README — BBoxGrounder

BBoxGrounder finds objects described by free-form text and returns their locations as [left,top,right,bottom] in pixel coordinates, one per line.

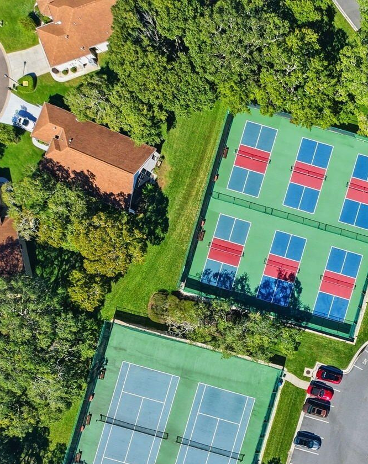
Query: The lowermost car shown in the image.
[294,434,322,450]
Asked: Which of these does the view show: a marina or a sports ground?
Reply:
sports ground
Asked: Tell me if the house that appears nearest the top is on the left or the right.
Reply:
left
